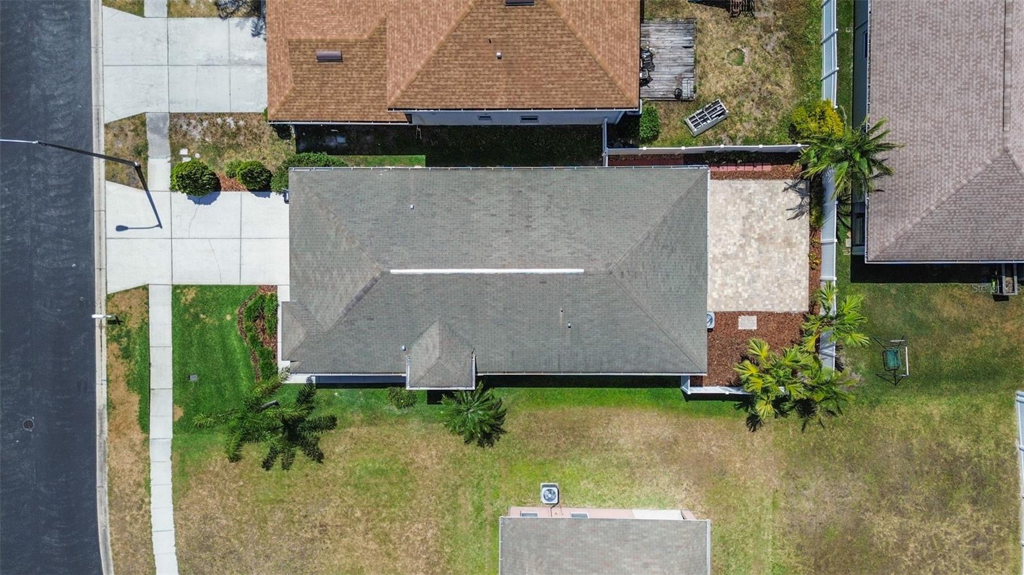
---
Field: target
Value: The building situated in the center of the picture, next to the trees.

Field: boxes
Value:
[281,167,709,389]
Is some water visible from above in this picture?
No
